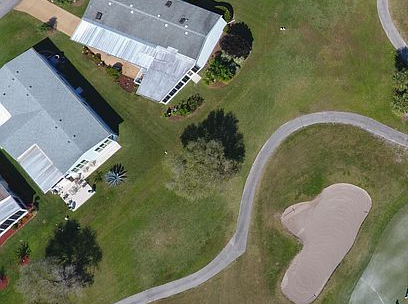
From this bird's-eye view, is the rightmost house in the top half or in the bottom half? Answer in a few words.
top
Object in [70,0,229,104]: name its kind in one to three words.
house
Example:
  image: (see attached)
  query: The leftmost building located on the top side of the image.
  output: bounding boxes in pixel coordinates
[0,47,123,193]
